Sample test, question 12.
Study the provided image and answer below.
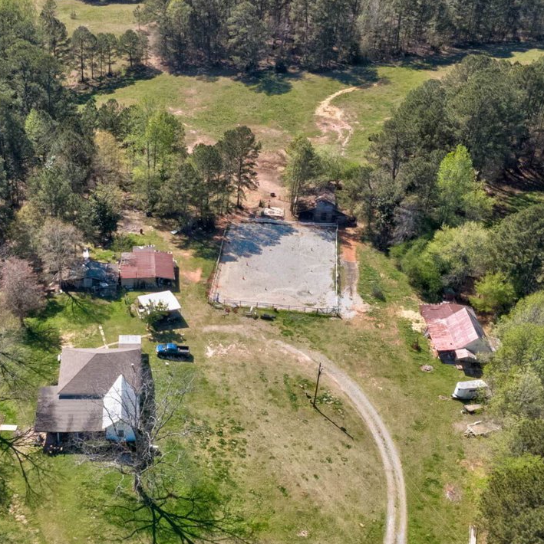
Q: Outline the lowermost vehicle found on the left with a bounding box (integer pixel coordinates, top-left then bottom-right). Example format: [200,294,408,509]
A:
[157,346,192,361]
